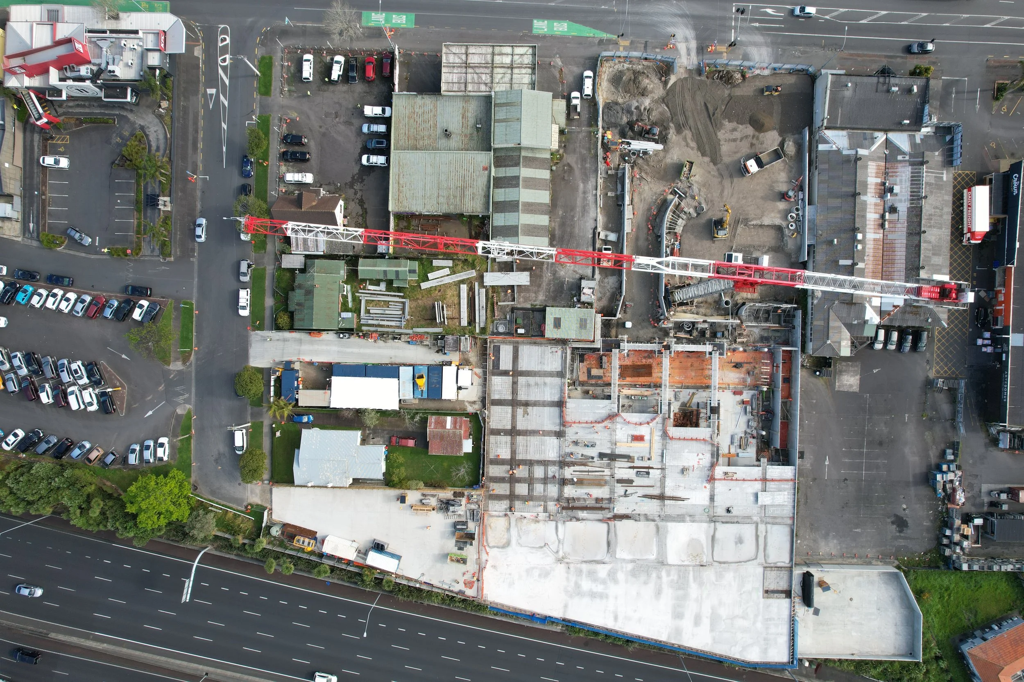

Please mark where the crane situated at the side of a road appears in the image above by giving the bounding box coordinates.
[230,216,985,312]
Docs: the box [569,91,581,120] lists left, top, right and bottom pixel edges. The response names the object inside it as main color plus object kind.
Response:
white vehicle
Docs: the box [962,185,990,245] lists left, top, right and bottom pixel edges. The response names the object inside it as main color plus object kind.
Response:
white truck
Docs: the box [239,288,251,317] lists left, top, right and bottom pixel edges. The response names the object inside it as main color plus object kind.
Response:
white vehicle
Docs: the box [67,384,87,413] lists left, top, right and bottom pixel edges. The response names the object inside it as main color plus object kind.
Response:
white car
